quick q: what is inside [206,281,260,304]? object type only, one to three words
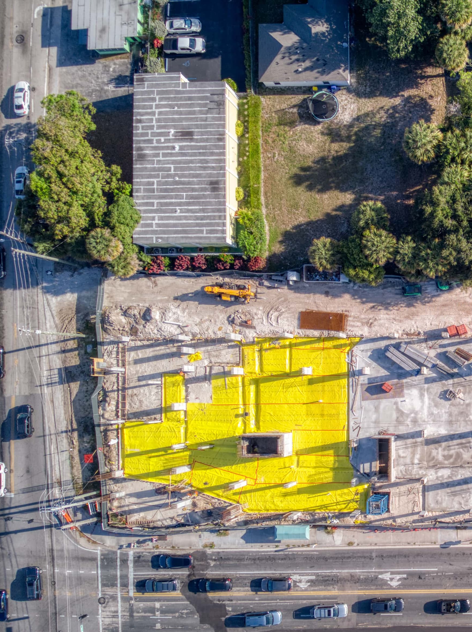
work vehicle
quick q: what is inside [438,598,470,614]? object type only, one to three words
car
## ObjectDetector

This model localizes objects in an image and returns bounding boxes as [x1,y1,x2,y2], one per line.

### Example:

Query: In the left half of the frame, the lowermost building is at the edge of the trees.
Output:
[132,72,240,251]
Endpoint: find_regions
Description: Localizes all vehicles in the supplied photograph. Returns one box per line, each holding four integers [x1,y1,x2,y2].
[245,611,283,628]
[314,603,349,620]
[152,554,193,570]
[14,405,35,439]
[23,566,44,601]
[10,166,28,199]
[0,590,10,621]
[0,345,8,378]
[166,17,202,34]
[197,576,235,594]
[371,597,404,615]
[438,598,470,614]
[261,576,293,593]
[403,284,421,298]
[0,462,8,496]
[12,82,31,116]
[145,576,180,595]
[206,281,260,304]
[163,35,206,55]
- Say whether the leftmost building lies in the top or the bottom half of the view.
top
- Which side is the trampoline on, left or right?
right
